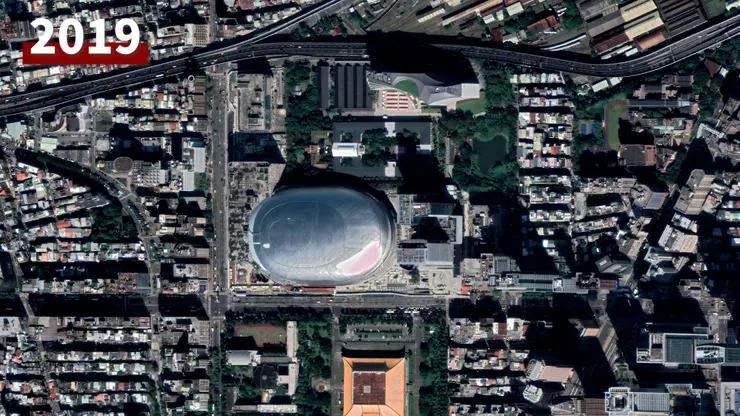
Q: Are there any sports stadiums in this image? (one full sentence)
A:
Yes, the image includes a sports stadium.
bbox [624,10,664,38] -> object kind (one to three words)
building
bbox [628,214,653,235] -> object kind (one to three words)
building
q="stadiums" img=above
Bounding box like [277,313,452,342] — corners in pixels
[248,187,407,290]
